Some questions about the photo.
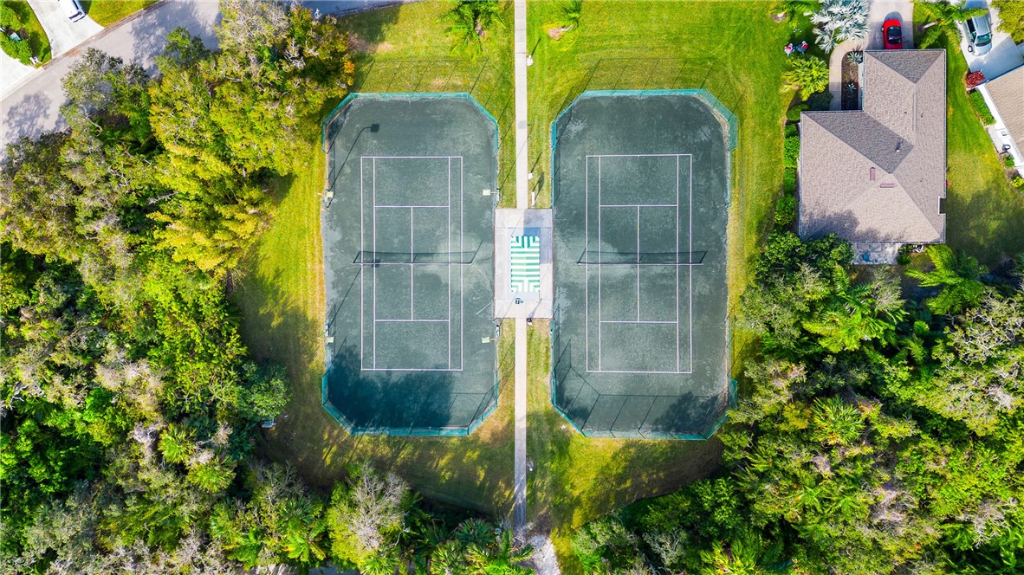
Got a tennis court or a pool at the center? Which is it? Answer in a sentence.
The one visible at the center is a tennis court.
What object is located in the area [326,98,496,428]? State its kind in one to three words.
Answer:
tennis court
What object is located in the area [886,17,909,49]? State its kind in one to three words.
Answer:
car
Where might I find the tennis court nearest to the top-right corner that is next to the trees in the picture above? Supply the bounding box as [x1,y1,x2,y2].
[548,95,728,432]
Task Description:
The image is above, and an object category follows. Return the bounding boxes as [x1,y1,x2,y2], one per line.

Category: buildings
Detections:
[790,49,946,243]
[975,65,1024,200]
